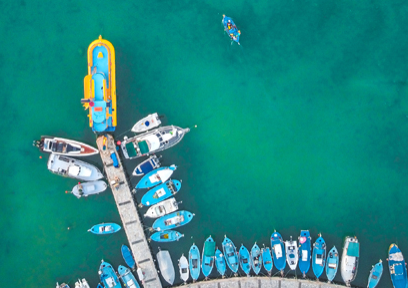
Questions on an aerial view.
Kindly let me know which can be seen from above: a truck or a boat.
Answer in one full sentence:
I can see a boat in this picture.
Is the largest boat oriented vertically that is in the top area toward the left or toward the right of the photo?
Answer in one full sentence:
The largest boat oriented vertically that is in the top area is on the left side of the image.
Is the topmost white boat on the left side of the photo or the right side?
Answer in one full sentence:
It is on the left.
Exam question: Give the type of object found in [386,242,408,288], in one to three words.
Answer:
boat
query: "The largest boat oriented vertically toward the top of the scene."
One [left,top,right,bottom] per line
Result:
[80,34,118,137]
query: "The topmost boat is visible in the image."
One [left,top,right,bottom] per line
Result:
[222,12,240,45]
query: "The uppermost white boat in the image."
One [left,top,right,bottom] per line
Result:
[114,112,164,139]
